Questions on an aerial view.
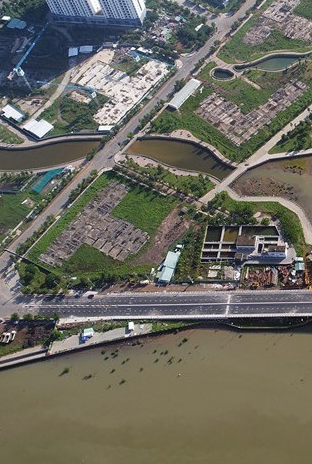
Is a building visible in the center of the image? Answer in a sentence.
Yes, a building appears in the center of the image.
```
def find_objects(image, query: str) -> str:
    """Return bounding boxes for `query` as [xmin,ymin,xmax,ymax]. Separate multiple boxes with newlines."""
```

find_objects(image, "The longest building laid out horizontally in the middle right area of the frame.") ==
[200,225,286,264]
